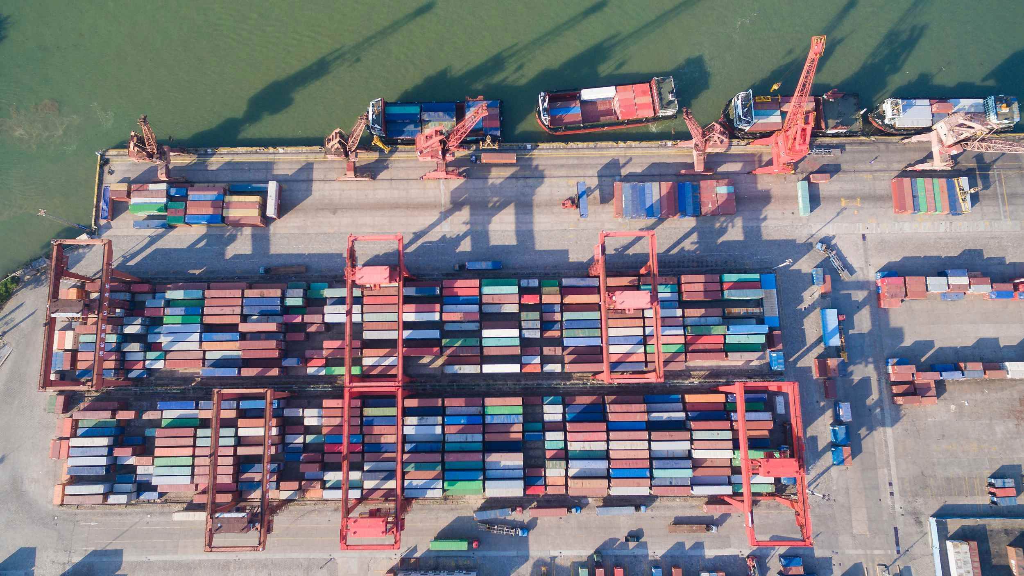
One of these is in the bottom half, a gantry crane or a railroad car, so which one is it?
gantry crane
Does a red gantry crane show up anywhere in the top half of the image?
Yes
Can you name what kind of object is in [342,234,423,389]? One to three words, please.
container crane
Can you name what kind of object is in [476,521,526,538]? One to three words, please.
vehicle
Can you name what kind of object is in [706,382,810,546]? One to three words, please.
container crane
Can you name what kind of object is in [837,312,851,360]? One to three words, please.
vehicle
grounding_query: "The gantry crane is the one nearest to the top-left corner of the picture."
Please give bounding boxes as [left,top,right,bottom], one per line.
[118,112,188,185]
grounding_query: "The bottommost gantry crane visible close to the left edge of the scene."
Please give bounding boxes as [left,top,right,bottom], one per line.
[29,240,148,395]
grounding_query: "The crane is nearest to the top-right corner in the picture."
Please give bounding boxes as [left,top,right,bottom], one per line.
[899,108,1024,212]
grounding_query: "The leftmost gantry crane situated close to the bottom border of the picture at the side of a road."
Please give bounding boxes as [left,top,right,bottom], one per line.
[205,388,308,551]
